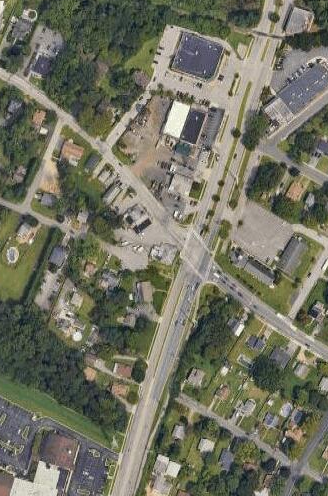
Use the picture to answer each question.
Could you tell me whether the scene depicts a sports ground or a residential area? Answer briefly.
residential area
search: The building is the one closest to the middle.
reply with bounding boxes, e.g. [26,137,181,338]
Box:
[149,244,175,264]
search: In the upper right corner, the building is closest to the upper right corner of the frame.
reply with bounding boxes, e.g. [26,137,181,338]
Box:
[287,9,314,35]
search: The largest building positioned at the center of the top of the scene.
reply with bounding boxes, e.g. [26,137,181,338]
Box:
[171,31,225,83]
